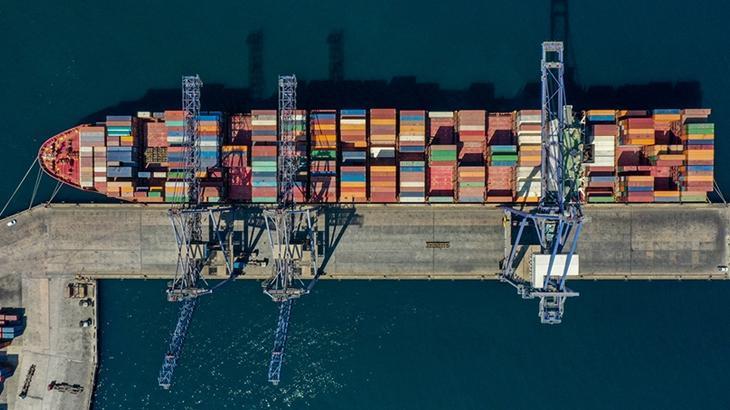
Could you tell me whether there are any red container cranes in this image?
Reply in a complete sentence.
No, there is no red container crane in the image.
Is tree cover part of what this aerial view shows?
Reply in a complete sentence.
No, tree cover can't be seen anywhere here.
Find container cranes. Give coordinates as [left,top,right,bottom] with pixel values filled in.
[264,76,324,385]
[495,39,582,322]
[157,76,245,389]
